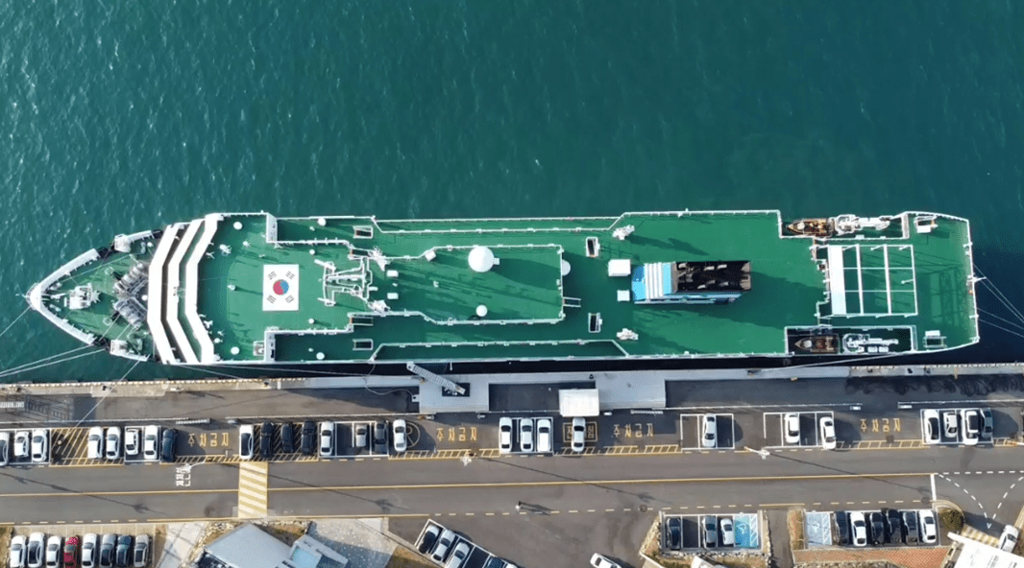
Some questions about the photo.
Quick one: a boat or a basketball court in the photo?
boat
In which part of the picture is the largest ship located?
center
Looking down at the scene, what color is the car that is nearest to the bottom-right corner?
white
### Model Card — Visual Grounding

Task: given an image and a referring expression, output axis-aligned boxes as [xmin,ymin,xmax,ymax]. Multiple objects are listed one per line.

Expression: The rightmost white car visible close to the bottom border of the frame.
[992,523,1015,555]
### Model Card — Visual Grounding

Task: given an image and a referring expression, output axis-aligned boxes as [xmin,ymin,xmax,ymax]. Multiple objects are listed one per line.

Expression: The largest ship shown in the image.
[12,209,988,367]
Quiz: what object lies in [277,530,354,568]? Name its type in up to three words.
house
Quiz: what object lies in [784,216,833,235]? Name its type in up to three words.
boat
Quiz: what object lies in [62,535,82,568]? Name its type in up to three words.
car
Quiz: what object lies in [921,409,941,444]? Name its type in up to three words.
car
